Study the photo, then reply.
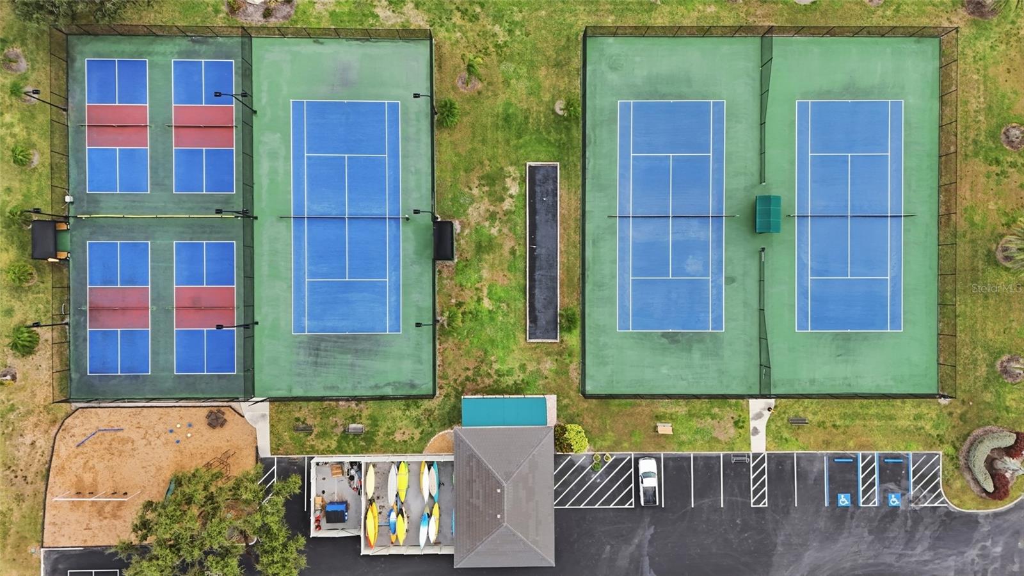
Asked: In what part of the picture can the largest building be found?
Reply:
bottom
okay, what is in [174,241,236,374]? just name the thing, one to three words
sports court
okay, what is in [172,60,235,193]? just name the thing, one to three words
sports court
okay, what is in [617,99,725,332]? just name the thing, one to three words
tennis court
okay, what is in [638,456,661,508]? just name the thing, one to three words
truck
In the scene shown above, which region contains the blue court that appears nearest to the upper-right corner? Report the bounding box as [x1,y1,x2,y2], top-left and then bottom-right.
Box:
[797,100,903,332]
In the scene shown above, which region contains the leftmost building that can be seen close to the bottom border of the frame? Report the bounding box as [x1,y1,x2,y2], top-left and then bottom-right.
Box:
[453,426,555,568]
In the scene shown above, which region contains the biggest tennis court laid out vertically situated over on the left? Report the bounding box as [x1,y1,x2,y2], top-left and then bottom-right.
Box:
[291,100,401,335]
